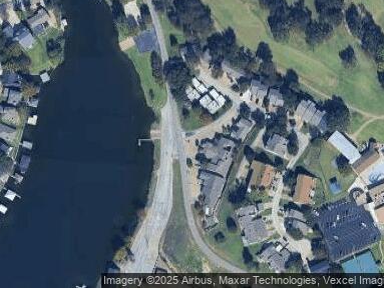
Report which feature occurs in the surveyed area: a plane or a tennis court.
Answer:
tennis court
